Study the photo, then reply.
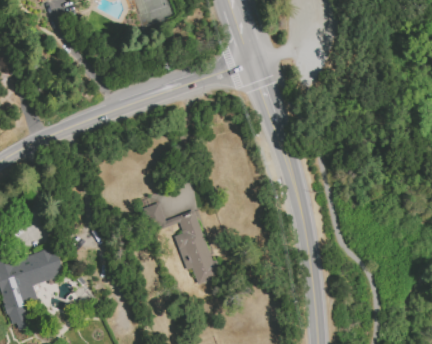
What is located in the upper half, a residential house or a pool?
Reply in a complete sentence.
It is a pool that can be seen in the upper half.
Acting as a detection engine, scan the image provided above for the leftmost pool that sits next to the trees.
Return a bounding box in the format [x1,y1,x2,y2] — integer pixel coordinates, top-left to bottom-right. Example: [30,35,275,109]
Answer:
[48,277,91,312]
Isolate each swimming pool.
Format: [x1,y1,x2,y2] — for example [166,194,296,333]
[77,0,128,22]
[48,277,91,312]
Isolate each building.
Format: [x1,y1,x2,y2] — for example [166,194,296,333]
[0,252,59,330]
[142,200,213,281]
